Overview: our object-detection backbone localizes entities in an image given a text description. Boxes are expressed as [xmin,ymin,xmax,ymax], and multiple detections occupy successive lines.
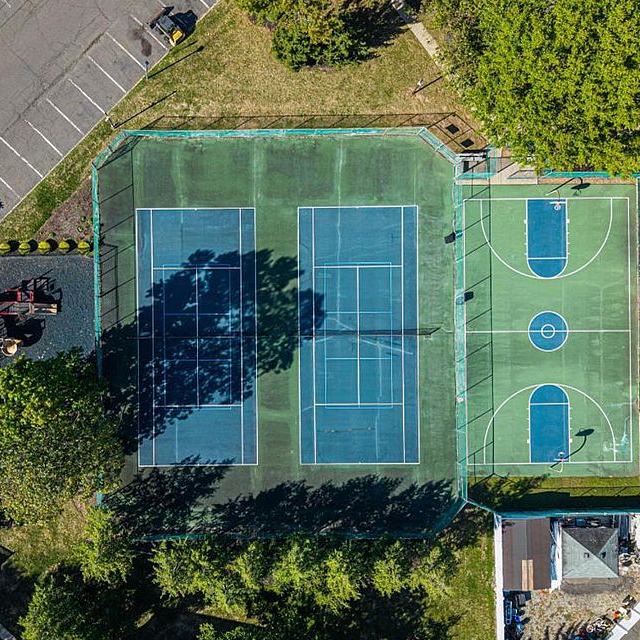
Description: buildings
[495,512,549,592]
[552,524,620,588]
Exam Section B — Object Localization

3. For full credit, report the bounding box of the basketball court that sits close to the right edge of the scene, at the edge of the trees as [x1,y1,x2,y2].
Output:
[457,182,639,478]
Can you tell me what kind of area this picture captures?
sports ground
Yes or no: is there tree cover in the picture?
Yes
